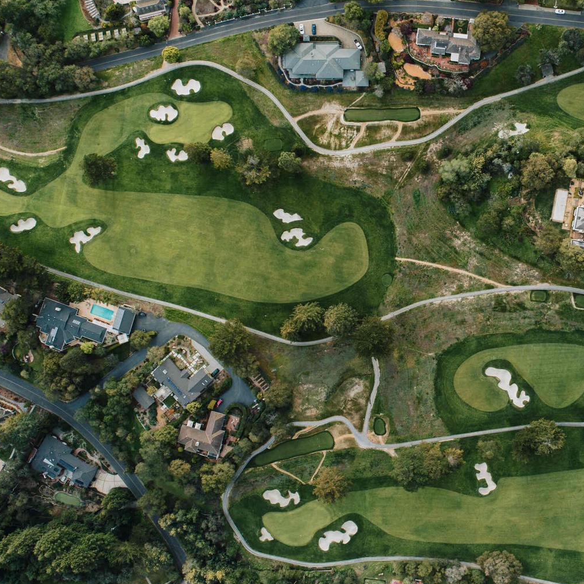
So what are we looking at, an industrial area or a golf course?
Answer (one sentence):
This image shows a golf course.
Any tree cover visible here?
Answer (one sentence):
Yes, tree cover can be seen from above here.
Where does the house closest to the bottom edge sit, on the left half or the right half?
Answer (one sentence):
The house closest to the bottom edge appears in the left half of the scene.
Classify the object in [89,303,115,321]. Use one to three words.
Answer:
swimming pool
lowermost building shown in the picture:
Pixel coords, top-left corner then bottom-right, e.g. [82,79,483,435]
[28,434,101,485]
